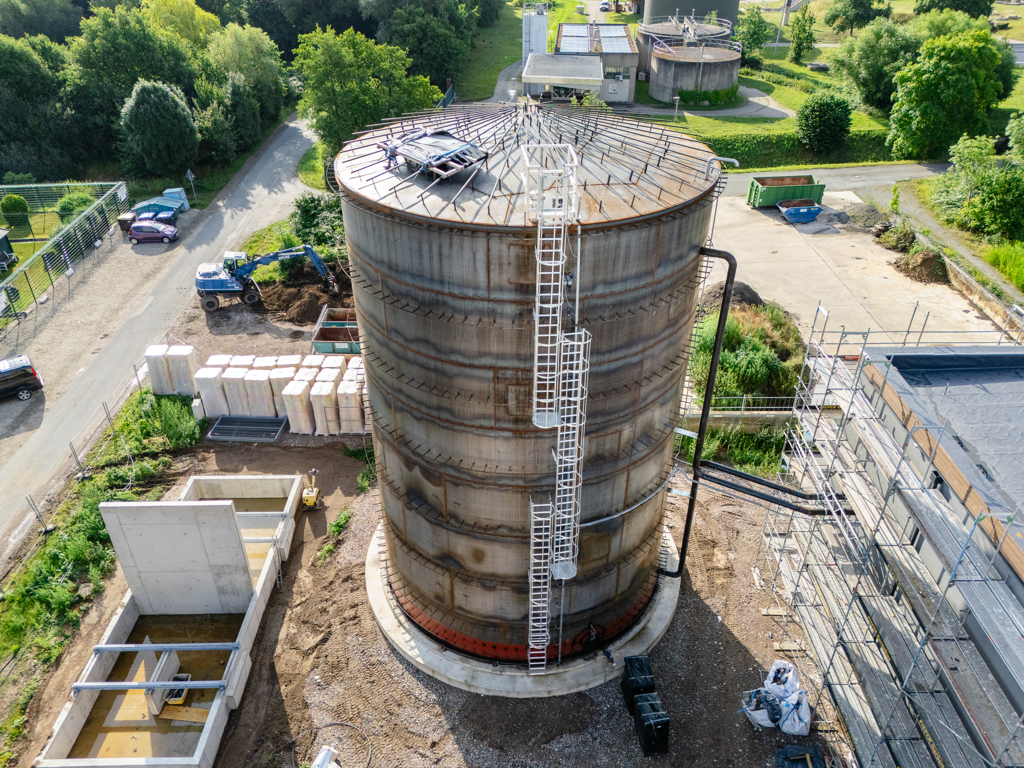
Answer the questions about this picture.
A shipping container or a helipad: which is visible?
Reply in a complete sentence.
Looking from above, you can make out a shipping container.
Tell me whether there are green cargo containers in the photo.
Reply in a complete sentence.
Yes, I can see a green cargo container in this picture.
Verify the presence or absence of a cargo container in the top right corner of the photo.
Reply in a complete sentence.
Yes, in the top right corner of the photo there is a cargo container.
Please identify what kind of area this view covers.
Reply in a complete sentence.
The picture captures an industrial area.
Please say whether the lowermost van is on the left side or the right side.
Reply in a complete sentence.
The lowermost van appears in the left half of the scene.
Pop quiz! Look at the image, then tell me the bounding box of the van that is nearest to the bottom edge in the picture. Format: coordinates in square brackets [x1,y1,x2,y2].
[0,349,55,399]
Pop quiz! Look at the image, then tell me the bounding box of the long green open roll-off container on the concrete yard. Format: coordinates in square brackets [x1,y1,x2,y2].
[744,175,828,205]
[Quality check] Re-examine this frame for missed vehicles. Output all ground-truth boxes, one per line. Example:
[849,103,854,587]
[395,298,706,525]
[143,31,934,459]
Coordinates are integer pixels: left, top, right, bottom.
[600,2,609,10]
[188,238,350,306]
[0,349,55,399]
[126,216,184,243]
